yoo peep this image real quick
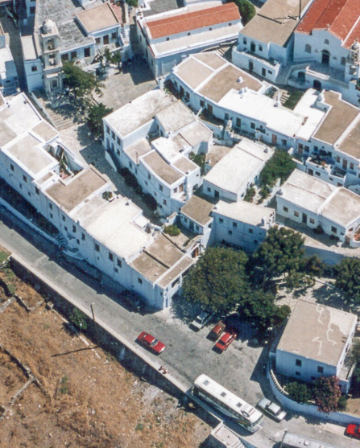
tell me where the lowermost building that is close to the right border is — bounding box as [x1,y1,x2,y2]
[276,299,358,383]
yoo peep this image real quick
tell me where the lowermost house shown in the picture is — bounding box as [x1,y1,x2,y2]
[212,421,240,447]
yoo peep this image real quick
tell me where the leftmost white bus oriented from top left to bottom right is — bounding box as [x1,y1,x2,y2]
[192,373,268,435]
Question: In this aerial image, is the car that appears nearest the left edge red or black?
red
